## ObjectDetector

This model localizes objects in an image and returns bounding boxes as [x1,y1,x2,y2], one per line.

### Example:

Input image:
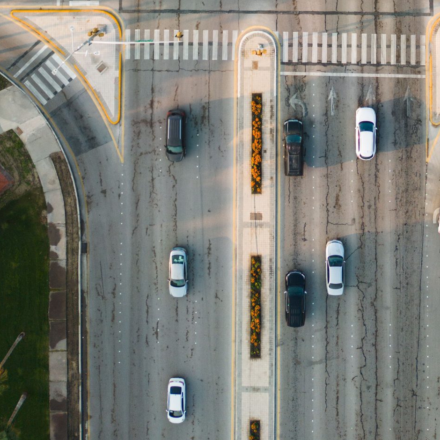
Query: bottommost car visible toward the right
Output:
[283,270,307,328]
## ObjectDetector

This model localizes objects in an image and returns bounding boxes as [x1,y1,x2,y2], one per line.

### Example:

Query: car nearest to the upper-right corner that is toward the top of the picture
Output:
[355,108,377,158]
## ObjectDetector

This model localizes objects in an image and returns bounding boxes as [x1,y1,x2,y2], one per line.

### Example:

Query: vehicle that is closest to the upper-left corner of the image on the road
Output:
[164,109,186,160]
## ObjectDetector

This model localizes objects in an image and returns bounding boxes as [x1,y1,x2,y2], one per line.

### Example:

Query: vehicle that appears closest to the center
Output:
[167,247,188,295]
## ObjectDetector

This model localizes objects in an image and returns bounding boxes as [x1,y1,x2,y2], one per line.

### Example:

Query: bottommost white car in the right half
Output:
[324,239,346,294]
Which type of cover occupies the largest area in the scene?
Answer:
paved ground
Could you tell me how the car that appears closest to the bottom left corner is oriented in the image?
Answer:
vertically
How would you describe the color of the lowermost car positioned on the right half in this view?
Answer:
black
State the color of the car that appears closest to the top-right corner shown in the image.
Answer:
white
